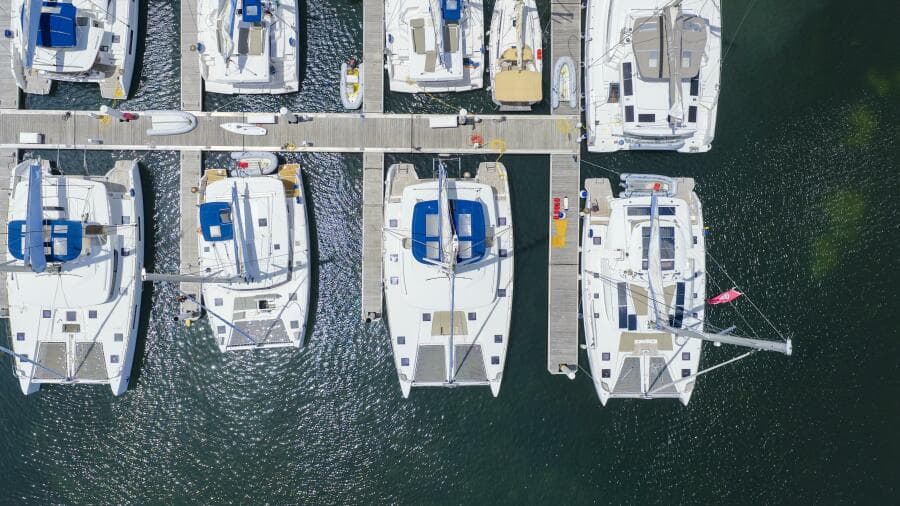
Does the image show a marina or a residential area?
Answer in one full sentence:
The picture captures a marina.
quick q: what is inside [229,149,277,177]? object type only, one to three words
boat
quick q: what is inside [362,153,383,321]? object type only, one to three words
pier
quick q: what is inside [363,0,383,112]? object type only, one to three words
pier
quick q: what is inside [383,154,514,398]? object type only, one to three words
boat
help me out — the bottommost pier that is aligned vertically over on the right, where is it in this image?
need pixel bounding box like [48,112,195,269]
[548,154,578,374]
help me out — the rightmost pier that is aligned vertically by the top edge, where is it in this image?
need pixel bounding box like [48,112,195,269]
[551,0,581,114]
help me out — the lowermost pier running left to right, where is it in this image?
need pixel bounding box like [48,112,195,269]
[0,110,581,154]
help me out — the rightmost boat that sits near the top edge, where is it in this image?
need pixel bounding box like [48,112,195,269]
[581,0,757,153]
